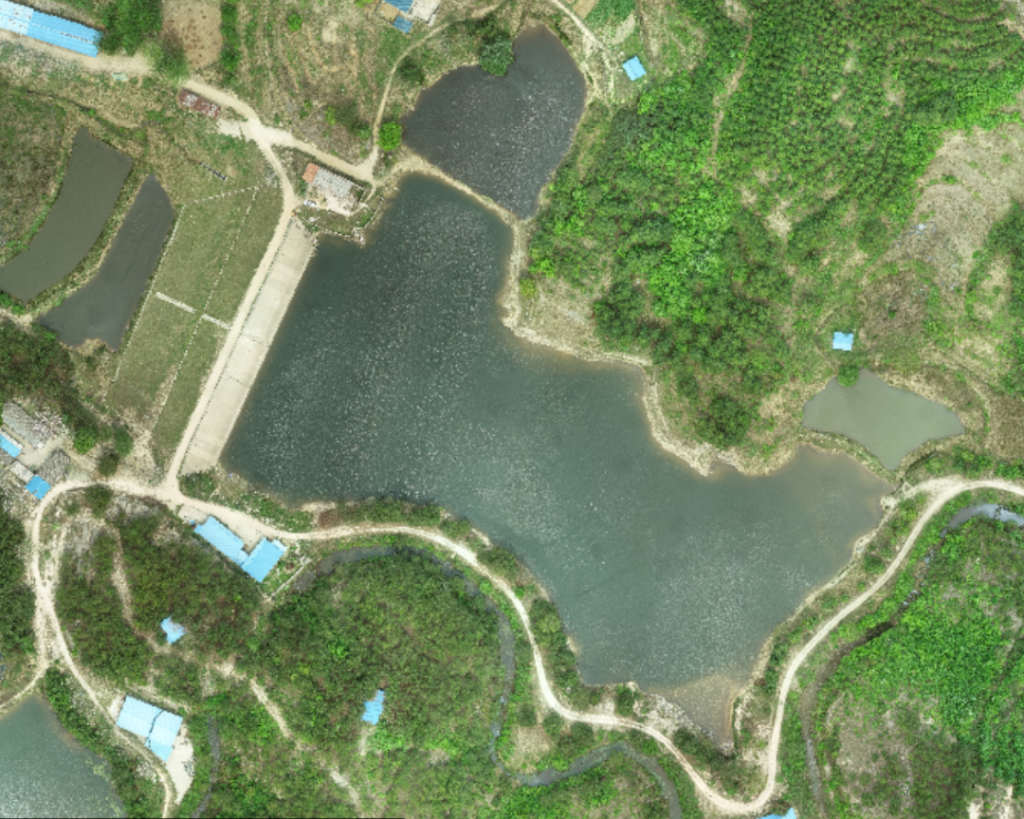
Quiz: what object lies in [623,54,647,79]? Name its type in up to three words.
shed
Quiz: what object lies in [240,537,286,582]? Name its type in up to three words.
barn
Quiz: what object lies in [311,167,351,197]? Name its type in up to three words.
house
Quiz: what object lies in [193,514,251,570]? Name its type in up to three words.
house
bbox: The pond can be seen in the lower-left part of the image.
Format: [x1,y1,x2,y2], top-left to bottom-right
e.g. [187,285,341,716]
[0,694,132,819]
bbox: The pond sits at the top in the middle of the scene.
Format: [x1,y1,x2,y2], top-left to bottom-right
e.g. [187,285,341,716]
[402,25,586,219]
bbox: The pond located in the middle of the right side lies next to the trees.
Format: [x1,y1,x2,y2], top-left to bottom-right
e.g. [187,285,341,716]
[803,369,963,469]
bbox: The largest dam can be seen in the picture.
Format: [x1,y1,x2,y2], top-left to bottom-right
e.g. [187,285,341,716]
[108,182,317,478]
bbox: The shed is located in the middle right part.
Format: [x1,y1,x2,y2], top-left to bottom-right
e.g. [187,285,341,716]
[835,331,855,350]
